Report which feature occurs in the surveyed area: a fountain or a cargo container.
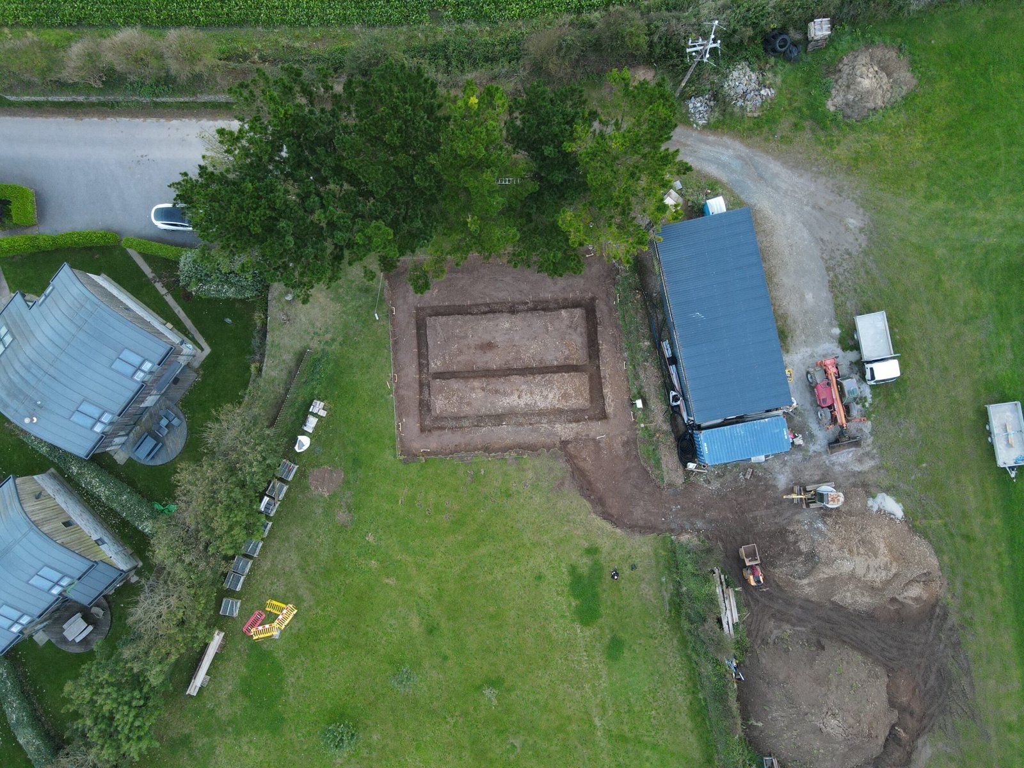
cargo container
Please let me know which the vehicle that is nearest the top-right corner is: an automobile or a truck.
truck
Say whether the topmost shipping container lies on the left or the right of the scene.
right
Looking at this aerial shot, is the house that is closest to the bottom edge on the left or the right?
left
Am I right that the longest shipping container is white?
No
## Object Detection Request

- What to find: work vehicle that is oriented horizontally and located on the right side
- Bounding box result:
[786,481,847,509]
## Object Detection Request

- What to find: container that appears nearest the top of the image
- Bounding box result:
[689,413,793,467]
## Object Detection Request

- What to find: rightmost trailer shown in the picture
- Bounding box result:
[980,400,1024,483]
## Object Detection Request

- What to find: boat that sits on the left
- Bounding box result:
[296,436,310,453]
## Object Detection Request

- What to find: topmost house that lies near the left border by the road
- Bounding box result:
[0,263,210,460]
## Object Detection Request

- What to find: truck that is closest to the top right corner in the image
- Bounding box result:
[849,309,902,387]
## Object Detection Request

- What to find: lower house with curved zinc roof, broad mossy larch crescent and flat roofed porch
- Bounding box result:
[0,462,151,658]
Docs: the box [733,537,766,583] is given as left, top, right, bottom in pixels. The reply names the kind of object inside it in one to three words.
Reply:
truck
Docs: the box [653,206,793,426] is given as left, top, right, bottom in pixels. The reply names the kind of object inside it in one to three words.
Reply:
shed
